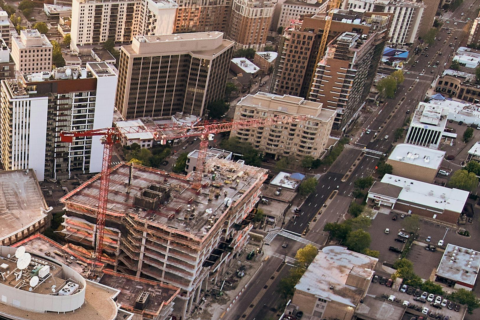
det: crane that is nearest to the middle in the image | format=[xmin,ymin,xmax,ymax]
[155,115,309,188]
